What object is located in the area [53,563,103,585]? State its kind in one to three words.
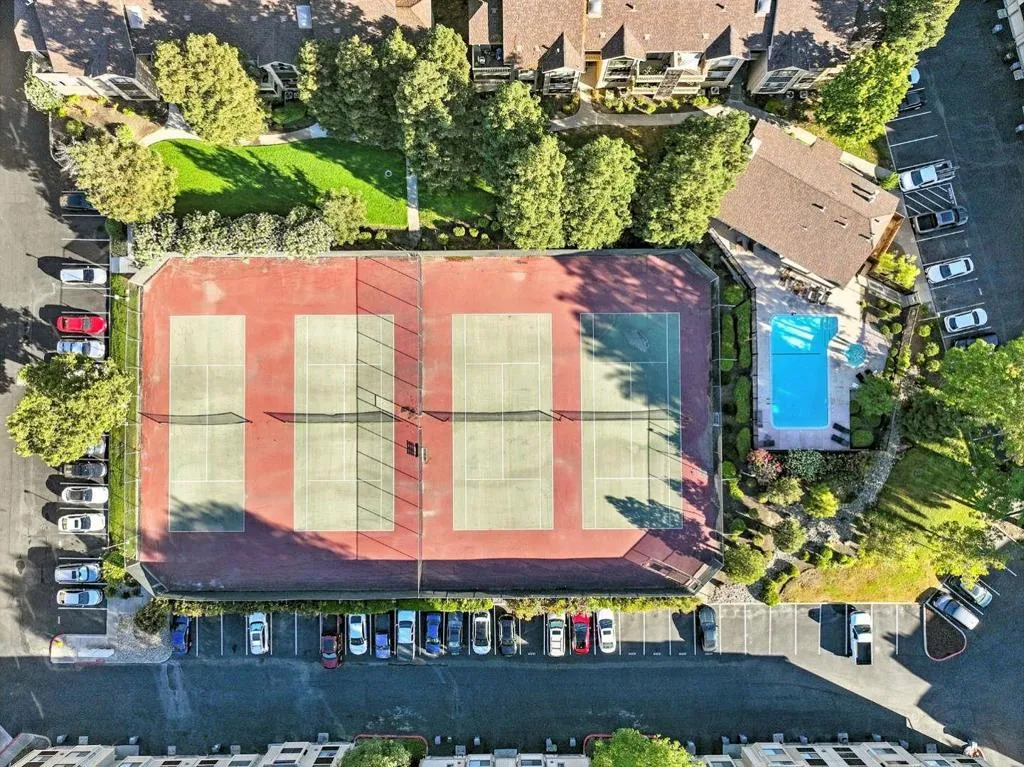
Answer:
car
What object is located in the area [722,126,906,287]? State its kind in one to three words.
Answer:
building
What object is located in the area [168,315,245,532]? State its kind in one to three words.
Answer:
tennis court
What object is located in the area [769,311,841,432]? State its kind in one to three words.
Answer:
swimming pool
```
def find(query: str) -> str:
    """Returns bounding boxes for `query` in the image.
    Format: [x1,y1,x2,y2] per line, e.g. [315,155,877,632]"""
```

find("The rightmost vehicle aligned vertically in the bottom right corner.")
[849,609,874,666]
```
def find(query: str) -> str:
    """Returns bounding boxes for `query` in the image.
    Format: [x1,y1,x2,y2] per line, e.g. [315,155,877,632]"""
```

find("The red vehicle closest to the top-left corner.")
[56,314,108,334]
